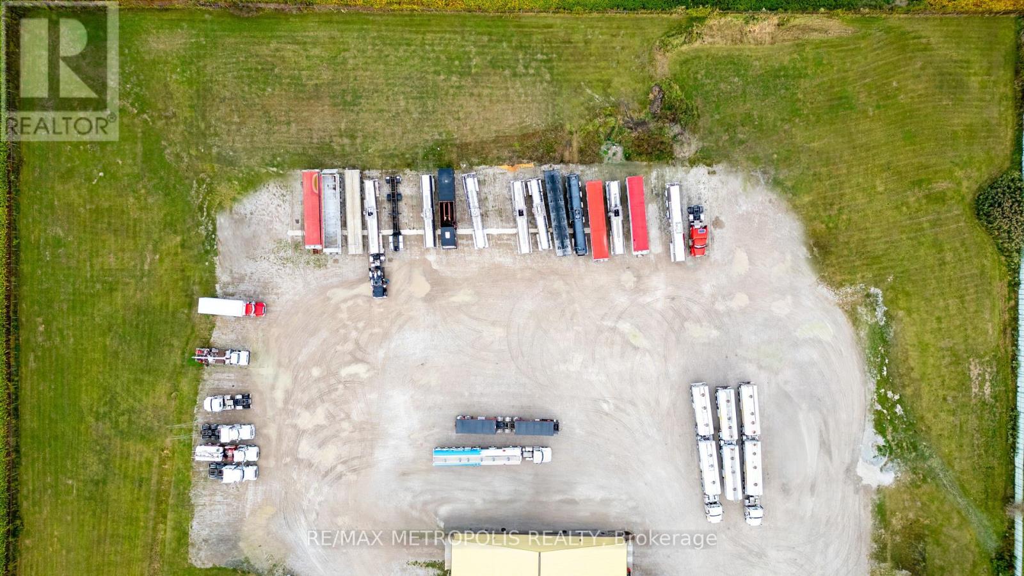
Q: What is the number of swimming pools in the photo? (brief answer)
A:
0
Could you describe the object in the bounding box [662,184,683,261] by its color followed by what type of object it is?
white trailer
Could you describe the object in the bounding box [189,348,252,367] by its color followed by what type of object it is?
white vehicle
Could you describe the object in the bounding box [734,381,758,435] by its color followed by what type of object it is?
white trailer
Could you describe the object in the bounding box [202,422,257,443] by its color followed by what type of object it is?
white truck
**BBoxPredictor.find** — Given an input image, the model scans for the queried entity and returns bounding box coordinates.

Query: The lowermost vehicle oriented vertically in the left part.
[369,253,388,298]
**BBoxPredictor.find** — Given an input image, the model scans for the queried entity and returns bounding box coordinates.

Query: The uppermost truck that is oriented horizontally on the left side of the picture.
[197,298,266,319]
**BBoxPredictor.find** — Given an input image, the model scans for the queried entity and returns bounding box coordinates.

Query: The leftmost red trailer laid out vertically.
[302,170,323,250]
